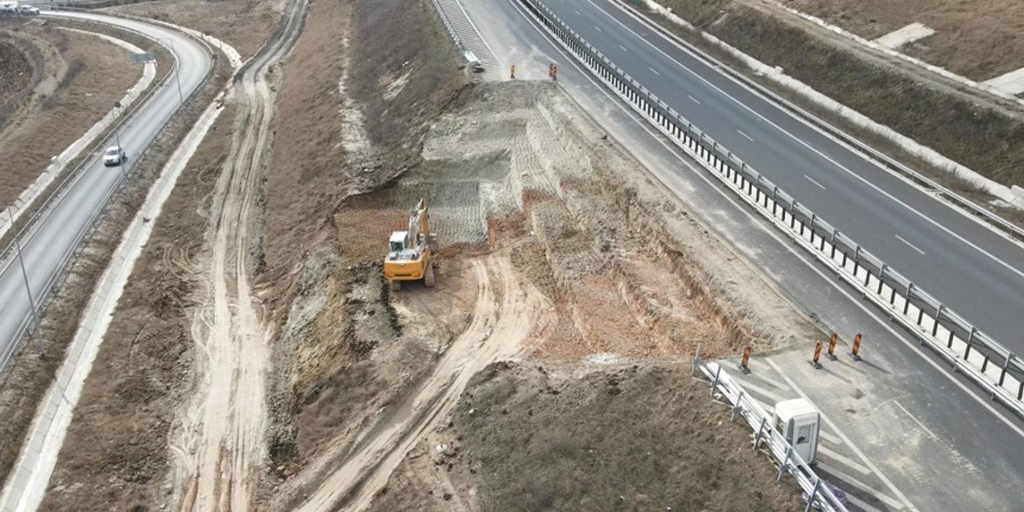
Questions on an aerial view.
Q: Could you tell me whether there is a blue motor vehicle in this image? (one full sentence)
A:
No, the picture doesn't show any blue motor vehicle.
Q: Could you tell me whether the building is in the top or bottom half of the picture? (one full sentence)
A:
The bottom half of the photo is where the building is.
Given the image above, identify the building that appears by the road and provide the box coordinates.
[776,404,821,467]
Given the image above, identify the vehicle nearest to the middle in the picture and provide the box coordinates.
[387,193,433,286]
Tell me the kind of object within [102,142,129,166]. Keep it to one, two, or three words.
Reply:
car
